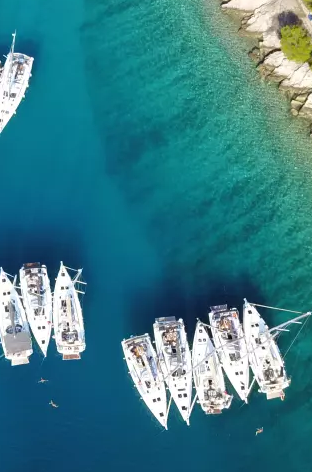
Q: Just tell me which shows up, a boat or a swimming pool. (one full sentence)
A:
The one in the frame is a boat.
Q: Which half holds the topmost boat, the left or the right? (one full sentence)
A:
The topmost boat sits on the left side.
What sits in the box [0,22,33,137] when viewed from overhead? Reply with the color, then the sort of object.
white boat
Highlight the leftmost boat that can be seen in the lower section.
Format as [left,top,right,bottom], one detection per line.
[0,266,32,365]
